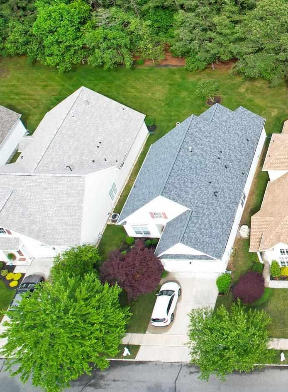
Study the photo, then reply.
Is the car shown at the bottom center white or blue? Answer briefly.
white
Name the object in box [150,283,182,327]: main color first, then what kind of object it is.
white car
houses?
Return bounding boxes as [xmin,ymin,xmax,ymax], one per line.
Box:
[114,102,270,274]
[246,120,288,271]
[0,85,153,267]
